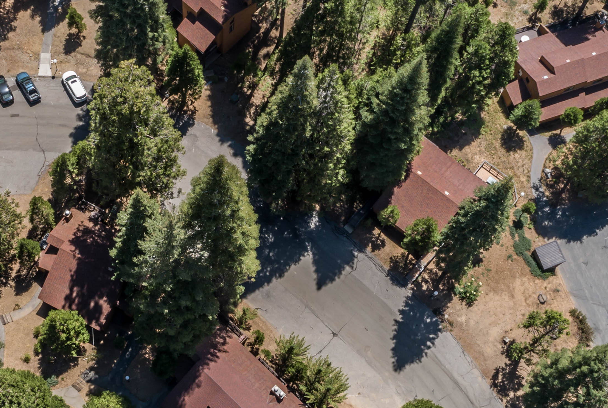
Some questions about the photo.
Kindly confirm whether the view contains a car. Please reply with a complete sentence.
Yes, a car appears in the view.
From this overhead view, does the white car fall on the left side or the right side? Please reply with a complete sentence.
You can find the white car on the left side of the picture.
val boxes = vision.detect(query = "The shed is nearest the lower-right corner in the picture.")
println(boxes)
[528,241,566,274]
